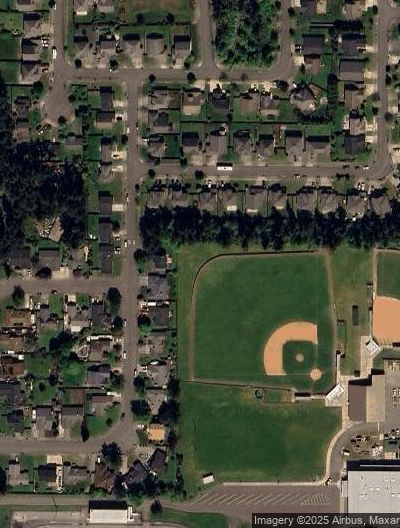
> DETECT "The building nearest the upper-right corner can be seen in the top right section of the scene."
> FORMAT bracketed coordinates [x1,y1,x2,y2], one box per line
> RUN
[343,1,369,20]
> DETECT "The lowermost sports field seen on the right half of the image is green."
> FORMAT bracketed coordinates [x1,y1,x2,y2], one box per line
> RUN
[176,384,342,500]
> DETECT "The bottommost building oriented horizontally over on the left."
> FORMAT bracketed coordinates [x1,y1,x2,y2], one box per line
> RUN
[90,508,129,524]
